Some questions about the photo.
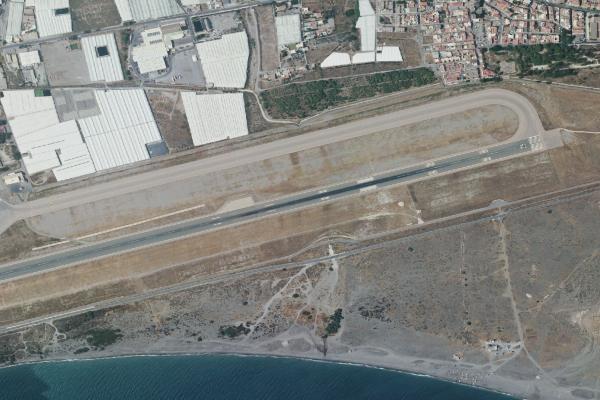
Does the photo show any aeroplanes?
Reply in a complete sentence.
No, there is no aeroplane in the image.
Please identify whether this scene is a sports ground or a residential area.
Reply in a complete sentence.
This looks like a residential area.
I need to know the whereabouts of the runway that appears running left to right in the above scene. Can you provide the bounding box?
[0,133,547,283]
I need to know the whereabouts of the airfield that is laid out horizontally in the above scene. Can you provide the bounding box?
[0,89,564,283]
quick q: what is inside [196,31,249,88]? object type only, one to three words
greenhouse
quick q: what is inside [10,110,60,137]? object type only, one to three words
greenhouse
